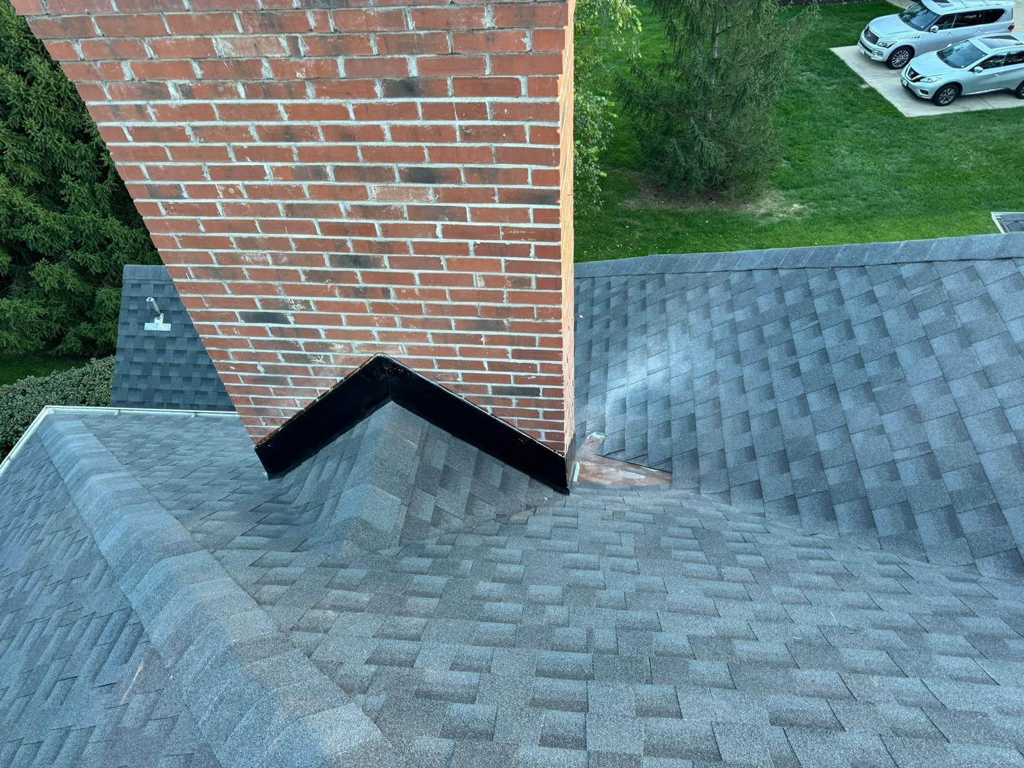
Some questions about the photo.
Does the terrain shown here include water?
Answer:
No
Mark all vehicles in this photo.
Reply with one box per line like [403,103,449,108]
[860,0,1024,69]
[905,33,1024,106]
